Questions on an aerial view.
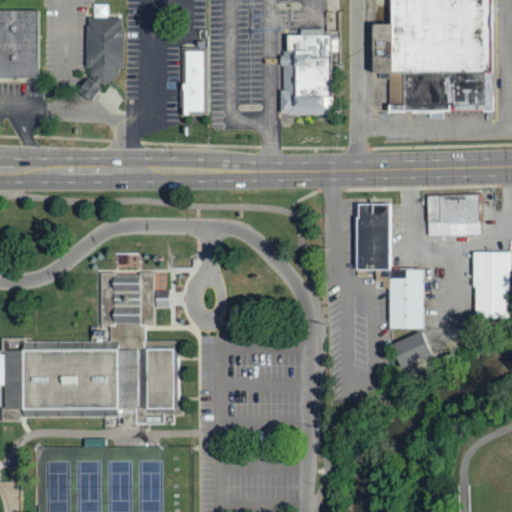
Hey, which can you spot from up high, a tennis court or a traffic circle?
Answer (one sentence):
Visible in the photo is a tennis court.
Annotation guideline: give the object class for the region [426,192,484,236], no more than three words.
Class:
building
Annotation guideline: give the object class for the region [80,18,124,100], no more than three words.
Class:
building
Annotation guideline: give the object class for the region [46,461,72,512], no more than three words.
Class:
tennis court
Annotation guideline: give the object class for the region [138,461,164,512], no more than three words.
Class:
tennis court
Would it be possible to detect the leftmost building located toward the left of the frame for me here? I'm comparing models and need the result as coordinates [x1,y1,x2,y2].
[0,11,41,80]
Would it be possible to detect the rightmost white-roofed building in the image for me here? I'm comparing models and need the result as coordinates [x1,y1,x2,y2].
[472,250,512,319]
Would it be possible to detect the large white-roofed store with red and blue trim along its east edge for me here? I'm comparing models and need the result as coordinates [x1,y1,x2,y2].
[373,0,494,118]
